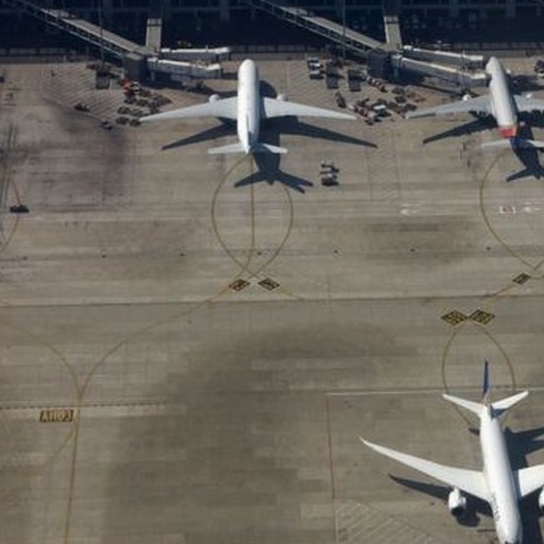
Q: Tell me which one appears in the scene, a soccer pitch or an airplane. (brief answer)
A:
airplane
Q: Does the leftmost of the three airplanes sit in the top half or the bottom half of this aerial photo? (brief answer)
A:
top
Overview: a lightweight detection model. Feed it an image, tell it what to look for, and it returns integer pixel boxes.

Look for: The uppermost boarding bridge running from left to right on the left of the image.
[157,42,237,66]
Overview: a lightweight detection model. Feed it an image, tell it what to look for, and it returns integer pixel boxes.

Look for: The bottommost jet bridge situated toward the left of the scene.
[143,59,231,95]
